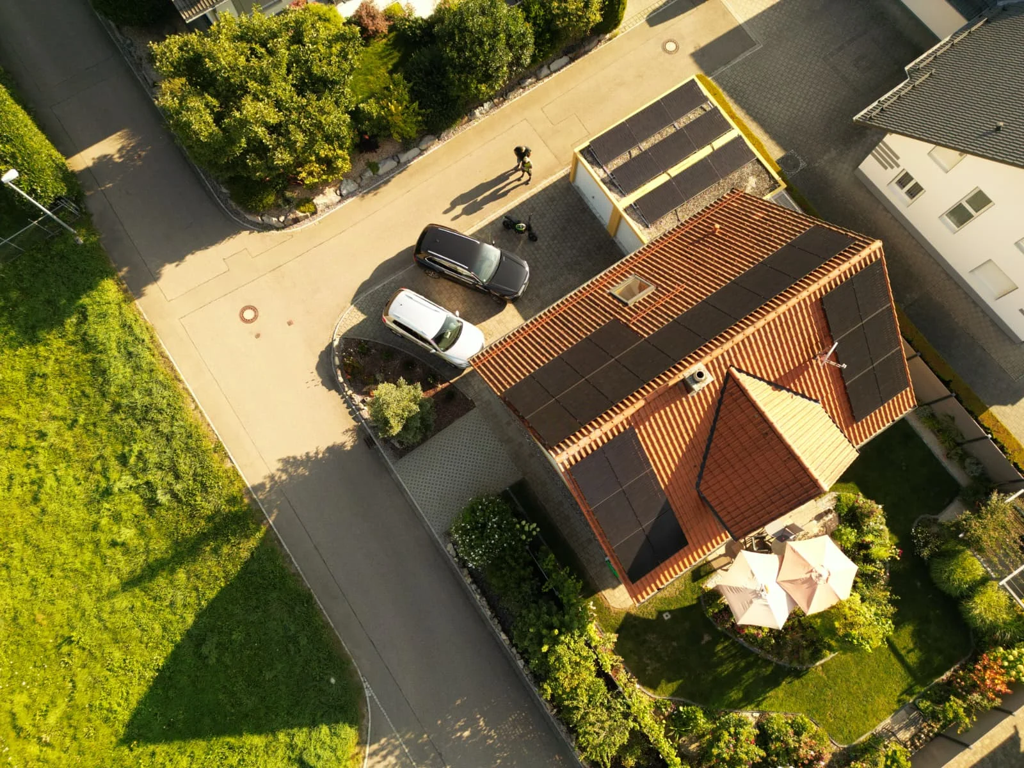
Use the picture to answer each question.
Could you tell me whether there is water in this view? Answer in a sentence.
No, the scene doesn't show any water.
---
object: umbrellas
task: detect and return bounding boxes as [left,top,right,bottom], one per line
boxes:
[776,535,858,616]
[718,550,792,629]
